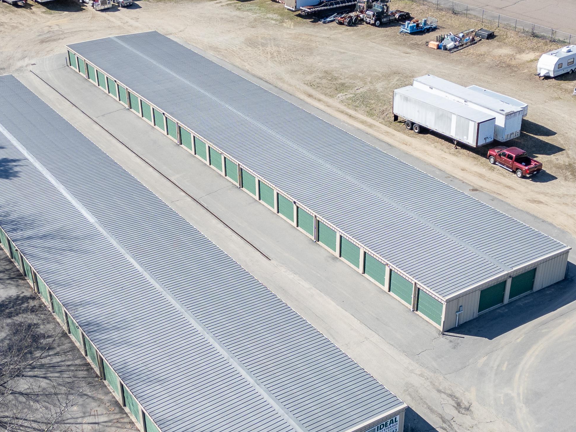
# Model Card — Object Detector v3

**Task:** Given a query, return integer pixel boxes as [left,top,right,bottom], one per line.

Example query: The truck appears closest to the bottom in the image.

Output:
[484,147,545,178]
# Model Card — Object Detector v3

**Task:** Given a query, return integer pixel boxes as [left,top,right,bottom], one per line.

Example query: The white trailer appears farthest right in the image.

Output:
[538,45,576,83]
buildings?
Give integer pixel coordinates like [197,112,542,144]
[64,29,573,331]
[0,72,410,432]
